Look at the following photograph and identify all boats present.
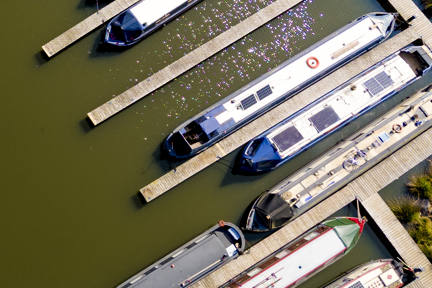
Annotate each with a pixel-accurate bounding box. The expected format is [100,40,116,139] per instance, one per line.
[157,13,394,161]
[100,0,199,47]
[323,257,419,288]
[234,39,432,172]
[220,217,365,288]
[240,82,432,232]
[115,223,242,288]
